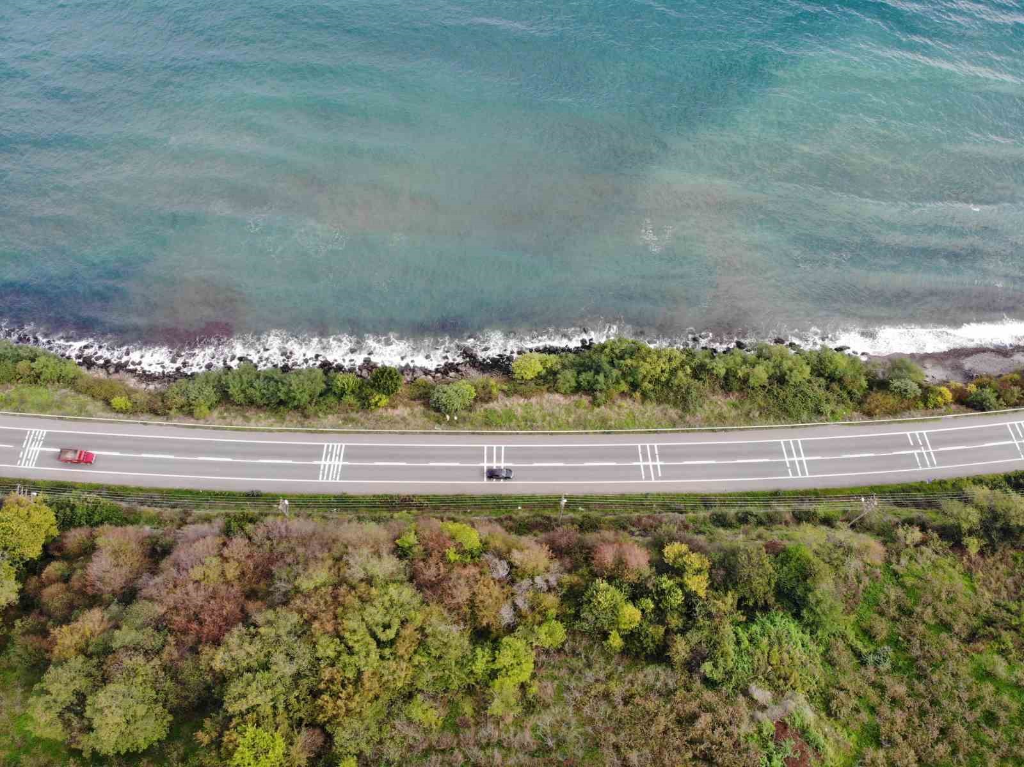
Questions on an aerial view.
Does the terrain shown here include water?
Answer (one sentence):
Yes, there's water in this view.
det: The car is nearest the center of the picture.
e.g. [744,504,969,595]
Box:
[487,468,512,480]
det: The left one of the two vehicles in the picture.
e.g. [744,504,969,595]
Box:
[54,448,97,465]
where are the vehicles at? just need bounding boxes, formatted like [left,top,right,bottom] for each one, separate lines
[487,468,512,480]
[54,448,97,465]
